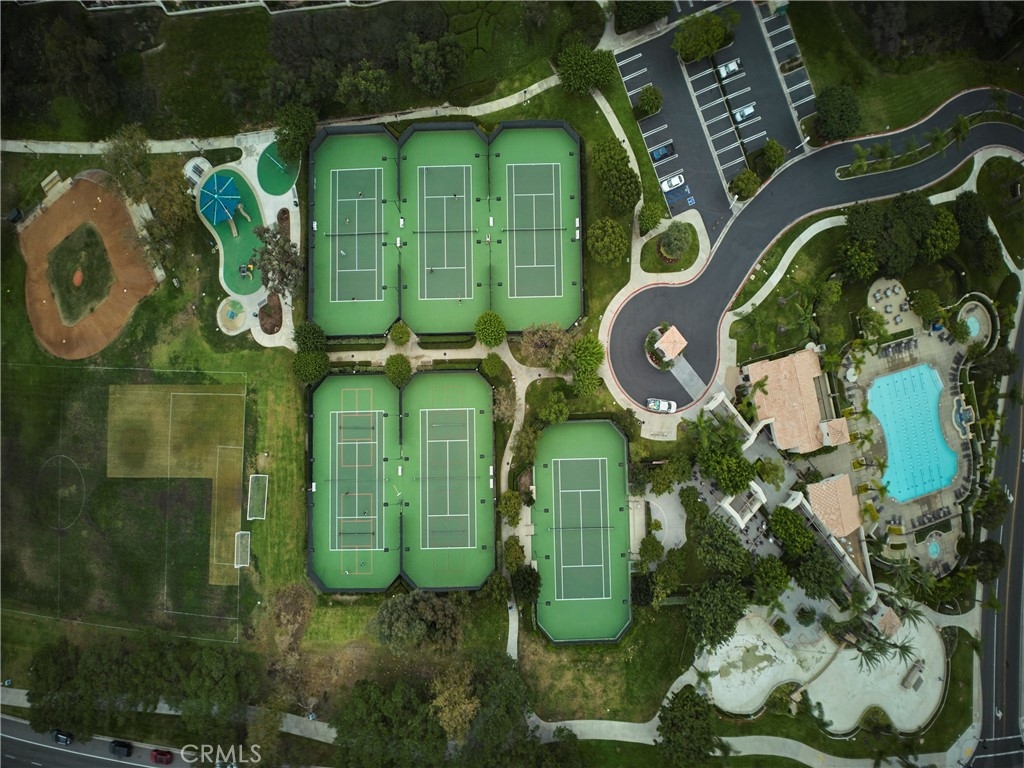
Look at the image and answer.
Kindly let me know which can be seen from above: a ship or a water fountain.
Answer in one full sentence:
Of the two, only a water fountain appears.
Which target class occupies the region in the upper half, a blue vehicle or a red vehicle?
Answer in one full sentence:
Looking in the upper half, you will find a blue vehicle.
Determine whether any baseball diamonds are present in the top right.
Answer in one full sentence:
No, looking in the top right, there is no baseball diamond.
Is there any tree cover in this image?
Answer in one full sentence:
Yes, there is tree cover in the image.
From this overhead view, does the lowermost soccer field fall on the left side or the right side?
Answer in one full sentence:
You can find the lowermost soccer field on the left side of the picture.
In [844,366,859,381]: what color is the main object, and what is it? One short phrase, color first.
white umbrella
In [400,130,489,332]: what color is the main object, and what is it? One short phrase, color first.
green tennis court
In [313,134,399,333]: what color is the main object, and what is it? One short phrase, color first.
green tennis court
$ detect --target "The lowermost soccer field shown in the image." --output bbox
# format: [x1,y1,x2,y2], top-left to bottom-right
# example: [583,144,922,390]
[0,364,246,643]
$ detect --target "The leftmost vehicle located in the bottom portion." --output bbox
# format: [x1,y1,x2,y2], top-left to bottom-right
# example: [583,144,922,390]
[48,729,76,747]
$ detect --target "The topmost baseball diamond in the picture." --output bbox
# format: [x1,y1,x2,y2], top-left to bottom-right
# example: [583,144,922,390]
[18,166,157,360]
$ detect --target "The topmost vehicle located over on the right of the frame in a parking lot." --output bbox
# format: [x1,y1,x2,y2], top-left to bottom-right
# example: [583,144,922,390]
[716,57,745,77]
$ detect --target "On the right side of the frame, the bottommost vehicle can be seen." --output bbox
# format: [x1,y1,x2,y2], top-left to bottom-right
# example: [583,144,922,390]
[645,398,676,412]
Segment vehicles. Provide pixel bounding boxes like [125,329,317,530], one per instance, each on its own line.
[48,729,76,747]
[107,739,135,757]
[645,398,676,412]
[716,57,745,77]
[660,173,686,192]
[730,102,756,120]
[648,142,674,161]
[148,748,175,766]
